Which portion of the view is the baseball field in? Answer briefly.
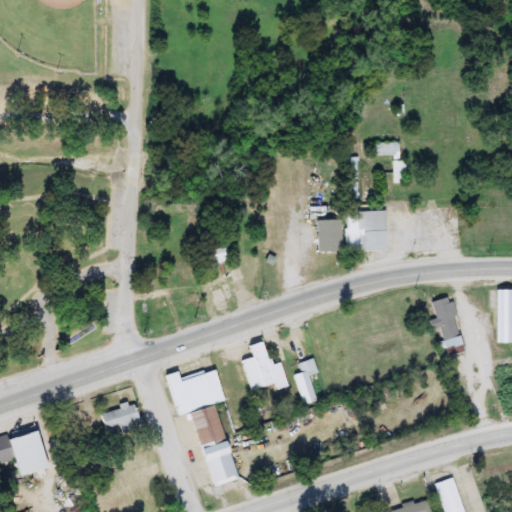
top left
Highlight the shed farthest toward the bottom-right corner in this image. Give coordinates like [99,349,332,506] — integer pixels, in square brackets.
[436,478,466,512]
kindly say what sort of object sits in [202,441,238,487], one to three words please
building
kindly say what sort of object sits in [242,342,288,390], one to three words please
building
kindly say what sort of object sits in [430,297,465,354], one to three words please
house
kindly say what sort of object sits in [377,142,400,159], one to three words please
shed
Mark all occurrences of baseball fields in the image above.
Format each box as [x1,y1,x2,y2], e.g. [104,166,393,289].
[0,0,98,76]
